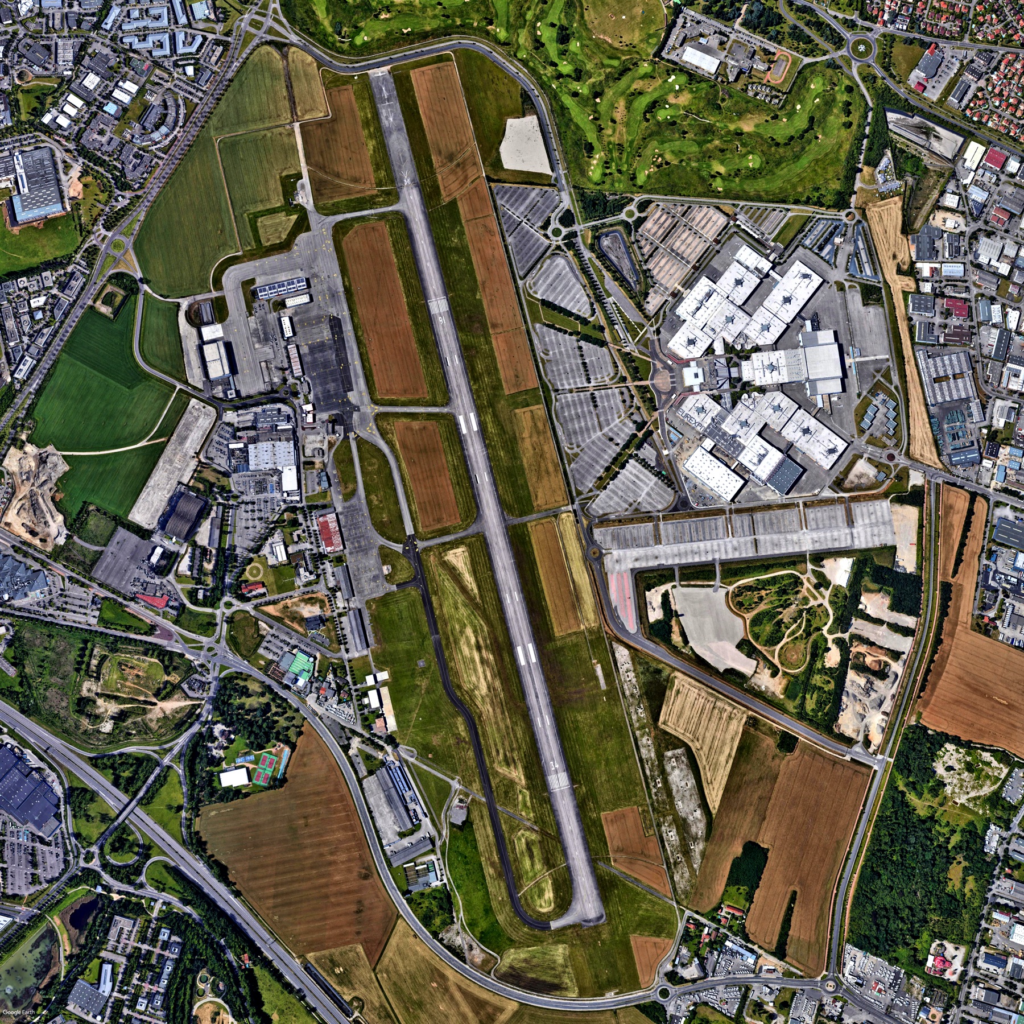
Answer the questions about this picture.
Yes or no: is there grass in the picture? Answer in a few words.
Yes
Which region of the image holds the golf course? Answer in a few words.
top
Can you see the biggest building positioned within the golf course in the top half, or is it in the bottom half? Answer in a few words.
top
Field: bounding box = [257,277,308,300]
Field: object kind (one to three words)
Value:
hangar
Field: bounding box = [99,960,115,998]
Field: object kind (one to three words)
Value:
building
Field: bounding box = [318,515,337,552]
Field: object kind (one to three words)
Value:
hangar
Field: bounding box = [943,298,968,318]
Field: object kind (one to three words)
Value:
building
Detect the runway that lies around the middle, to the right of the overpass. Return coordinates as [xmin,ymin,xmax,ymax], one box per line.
[370,68,605,925]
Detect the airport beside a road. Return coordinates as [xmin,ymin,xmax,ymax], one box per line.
[223,68,606,929]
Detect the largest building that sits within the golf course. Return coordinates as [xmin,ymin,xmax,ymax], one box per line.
[681,47,720,76]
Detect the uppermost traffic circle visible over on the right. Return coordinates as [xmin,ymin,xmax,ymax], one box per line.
[847,34,876,62]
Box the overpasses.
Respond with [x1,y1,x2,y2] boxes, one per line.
[94,728,189,851]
